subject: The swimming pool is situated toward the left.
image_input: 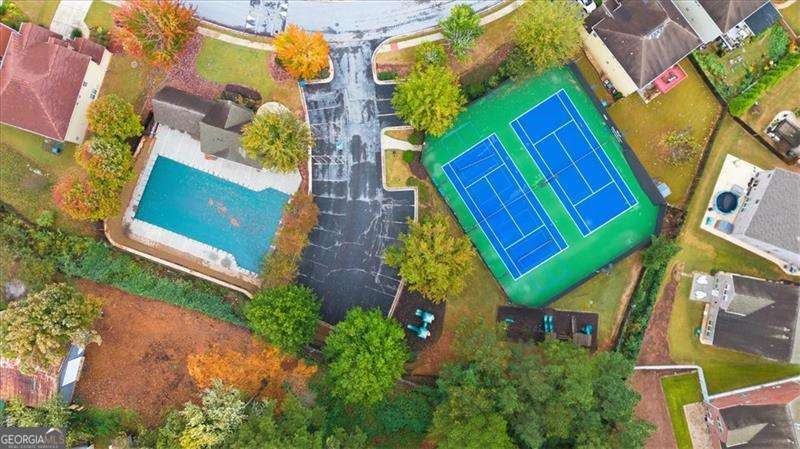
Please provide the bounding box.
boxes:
[132,155,293,277]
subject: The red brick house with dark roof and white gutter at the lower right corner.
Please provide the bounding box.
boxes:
[703,395,796,449]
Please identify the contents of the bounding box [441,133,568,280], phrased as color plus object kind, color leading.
blue tennis court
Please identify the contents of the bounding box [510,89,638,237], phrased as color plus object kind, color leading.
blue tennis court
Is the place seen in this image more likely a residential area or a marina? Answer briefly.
residential area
